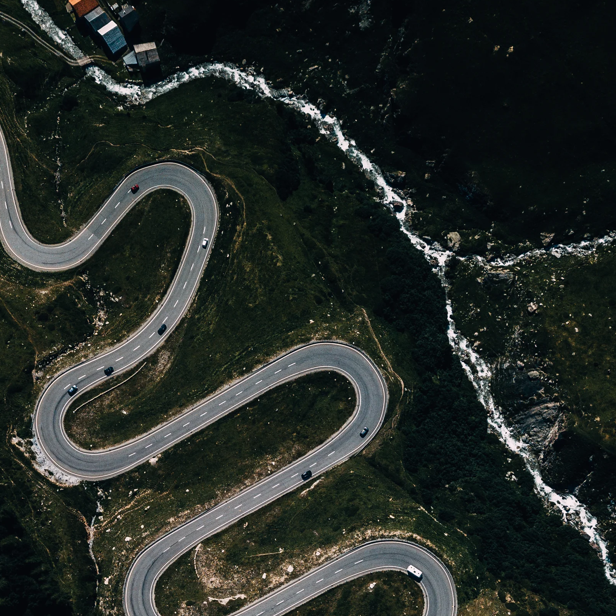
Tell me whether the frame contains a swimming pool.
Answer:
No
